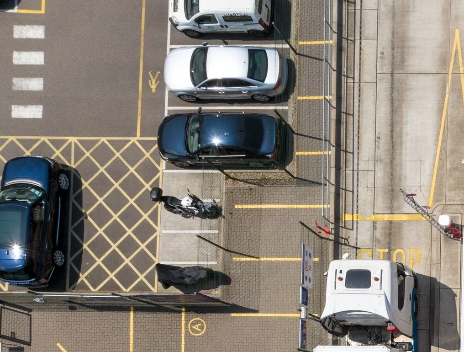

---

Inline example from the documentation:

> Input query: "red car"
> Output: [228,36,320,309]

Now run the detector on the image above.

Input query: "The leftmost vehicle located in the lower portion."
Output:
[0,155,75,288]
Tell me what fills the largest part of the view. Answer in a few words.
paved ground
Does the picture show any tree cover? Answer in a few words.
No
